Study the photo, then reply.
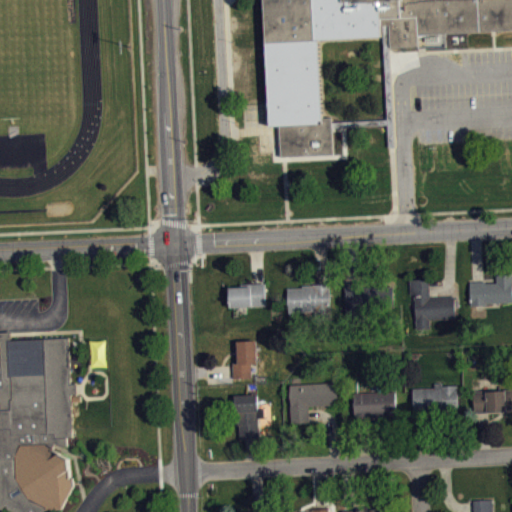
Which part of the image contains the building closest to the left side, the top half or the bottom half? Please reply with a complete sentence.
The building closest to the left side sits in the bottom half of the picture.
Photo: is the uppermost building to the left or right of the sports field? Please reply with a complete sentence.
Relative to the sports field, the uppermost building is on the right.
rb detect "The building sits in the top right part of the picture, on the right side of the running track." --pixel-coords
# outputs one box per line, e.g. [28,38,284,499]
[263,0,512,156]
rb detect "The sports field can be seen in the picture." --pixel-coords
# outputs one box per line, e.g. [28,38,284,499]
[0,0,82,172]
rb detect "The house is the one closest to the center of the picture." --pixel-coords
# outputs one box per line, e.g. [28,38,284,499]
[228,283,267,310]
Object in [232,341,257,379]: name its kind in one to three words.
house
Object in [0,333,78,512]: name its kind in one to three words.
building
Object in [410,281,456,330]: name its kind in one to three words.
house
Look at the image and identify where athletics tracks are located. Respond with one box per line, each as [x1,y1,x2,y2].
[0,0,102,212]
